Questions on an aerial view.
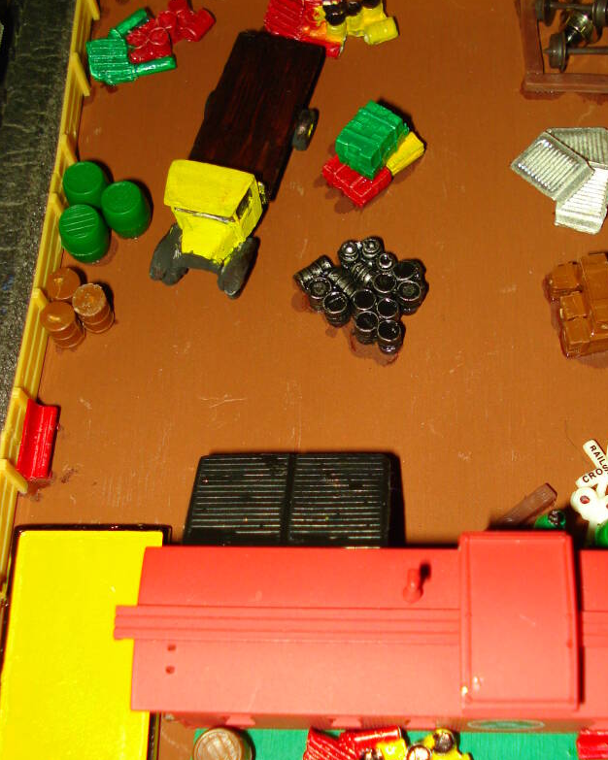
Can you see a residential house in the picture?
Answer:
No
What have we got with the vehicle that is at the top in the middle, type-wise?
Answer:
truck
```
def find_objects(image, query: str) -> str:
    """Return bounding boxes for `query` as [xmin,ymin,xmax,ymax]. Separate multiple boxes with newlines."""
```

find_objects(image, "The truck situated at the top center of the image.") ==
[155,33,326,304]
